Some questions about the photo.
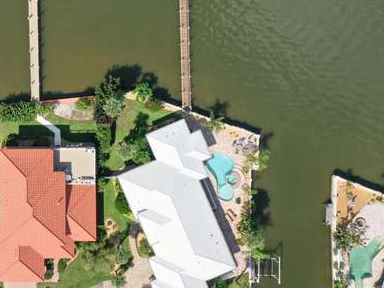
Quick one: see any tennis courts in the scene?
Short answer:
No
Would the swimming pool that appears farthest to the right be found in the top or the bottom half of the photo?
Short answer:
bottom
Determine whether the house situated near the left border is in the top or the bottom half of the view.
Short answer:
bottom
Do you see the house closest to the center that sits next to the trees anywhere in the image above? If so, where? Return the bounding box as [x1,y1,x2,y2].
[118,119,235,288]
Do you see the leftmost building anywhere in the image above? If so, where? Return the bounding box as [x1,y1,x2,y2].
[0,145,97,283]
